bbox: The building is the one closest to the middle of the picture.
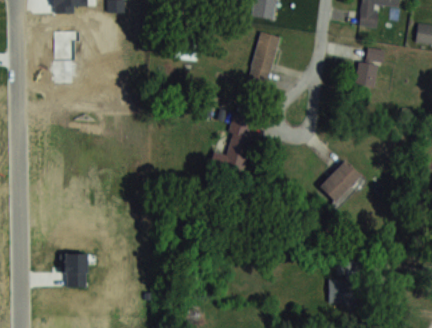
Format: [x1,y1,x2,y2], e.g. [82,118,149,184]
[212,122,250,169]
